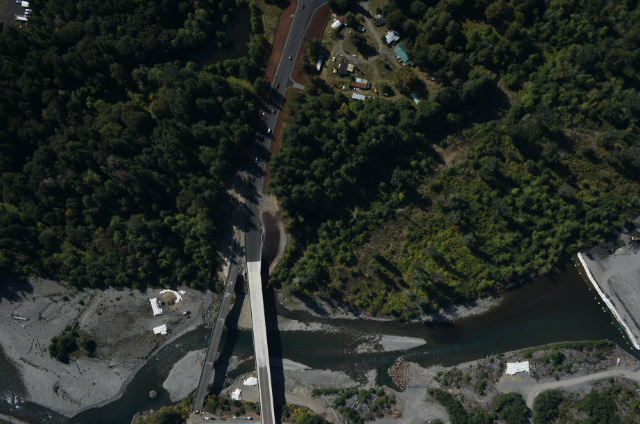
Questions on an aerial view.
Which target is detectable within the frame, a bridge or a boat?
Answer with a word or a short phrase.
bridge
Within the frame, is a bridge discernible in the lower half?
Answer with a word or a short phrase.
Yes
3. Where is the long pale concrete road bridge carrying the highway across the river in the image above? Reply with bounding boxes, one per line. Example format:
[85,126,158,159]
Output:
[248,262,276,424]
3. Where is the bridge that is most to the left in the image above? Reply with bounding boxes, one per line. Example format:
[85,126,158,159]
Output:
[194,258,240,412]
